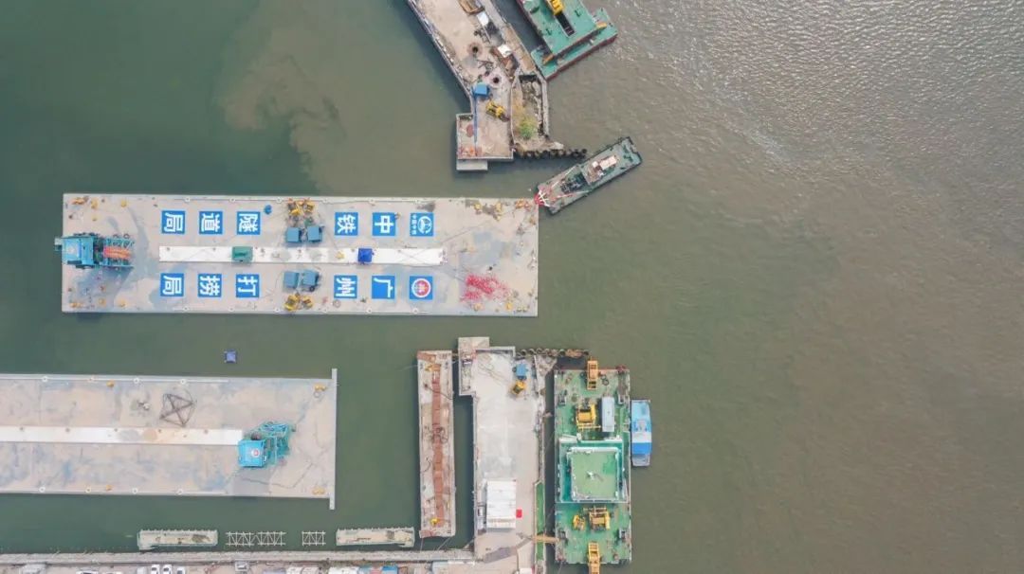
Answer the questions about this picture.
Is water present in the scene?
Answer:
Yes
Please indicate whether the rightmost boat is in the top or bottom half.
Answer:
bottom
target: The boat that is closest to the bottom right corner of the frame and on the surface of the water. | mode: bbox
[631,400,652,466]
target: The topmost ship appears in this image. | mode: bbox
[516,0,617,81]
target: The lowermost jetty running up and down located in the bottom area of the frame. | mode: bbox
[458,337,555,574]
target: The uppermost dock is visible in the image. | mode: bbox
[407,0,561,173]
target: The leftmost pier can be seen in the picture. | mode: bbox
[137,529,219,550]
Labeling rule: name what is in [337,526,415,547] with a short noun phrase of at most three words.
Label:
pier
